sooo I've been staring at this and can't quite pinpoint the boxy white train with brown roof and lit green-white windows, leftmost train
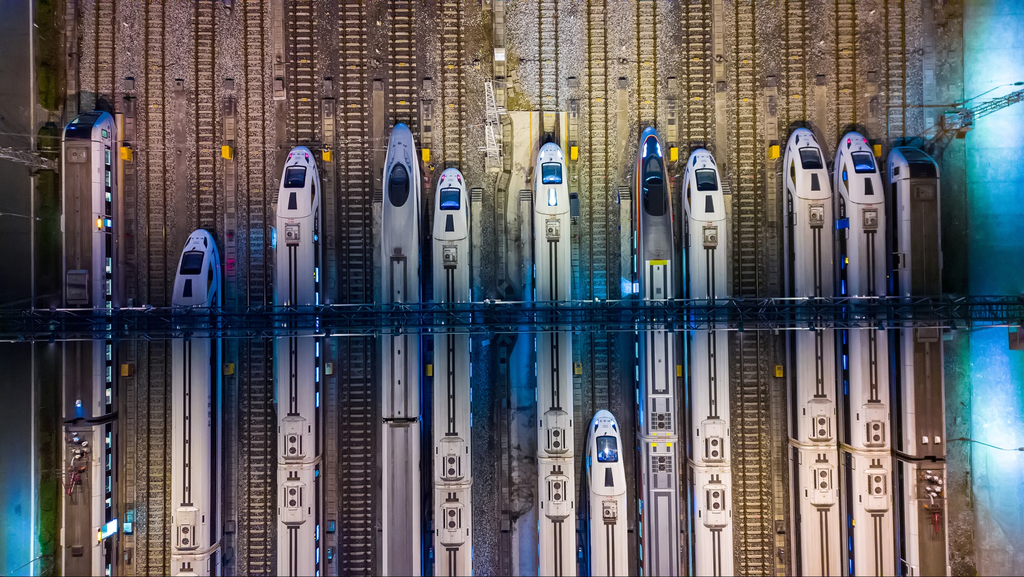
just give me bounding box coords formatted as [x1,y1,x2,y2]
[63,112,119,577]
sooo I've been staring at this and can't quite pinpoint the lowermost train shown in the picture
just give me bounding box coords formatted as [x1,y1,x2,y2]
[587,409,629,577]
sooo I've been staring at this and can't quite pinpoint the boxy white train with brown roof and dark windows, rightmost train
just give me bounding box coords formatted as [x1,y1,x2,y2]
[885,143,947,577]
